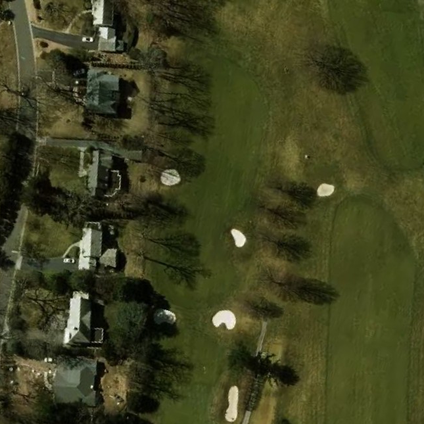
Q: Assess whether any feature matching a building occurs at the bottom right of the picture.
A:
No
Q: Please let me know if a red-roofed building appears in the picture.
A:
No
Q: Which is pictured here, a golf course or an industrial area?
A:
golf course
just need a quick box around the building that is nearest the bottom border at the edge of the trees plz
[54,357,99,407]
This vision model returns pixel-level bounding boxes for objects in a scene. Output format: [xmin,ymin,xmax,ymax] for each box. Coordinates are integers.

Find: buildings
[92,0,124,51]
[88,149,121,196]
[80,222,117,270]
[87,68,119,116]
[54,357,99,407]
[64,292,104,345]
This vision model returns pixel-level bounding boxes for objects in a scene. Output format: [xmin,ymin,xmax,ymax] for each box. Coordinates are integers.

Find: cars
[82,37,93,42]
[74,69,84,76]
[64,258,75,263]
